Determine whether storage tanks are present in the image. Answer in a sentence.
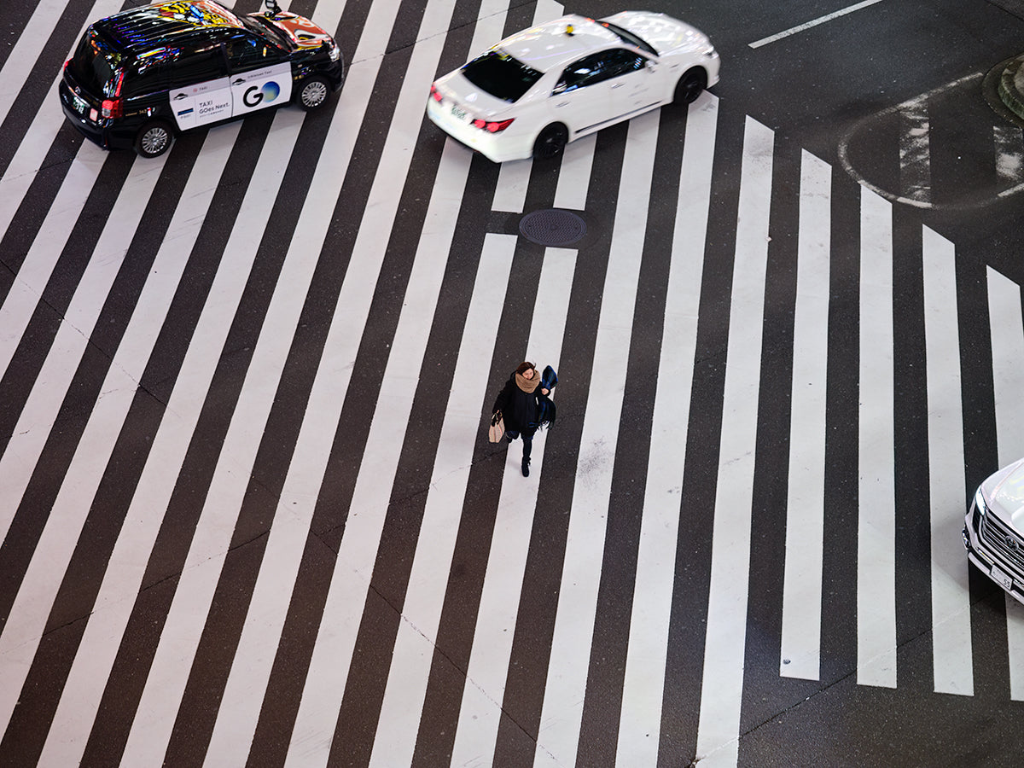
No, there isn't any storage tank down there.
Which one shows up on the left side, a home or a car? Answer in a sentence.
It is a car that can be seen on the left side.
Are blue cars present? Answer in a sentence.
No, there's no blue car here.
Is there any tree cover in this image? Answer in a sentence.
No, tree cover can't be seen anywhere here.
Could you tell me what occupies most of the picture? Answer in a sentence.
For the most part, this view shows paved ground.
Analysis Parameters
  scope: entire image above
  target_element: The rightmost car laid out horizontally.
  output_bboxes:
[431,8,722,160]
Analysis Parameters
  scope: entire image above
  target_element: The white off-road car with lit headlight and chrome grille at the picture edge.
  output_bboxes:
[963,461,1024,607]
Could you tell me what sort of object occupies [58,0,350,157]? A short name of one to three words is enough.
car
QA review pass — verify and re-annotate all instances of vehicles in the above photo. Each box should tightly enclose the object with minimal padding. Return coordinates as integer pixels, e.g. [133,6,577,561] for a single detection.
[431,8,722,160]
[58,0,350,157]
[963,461,1024,607]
